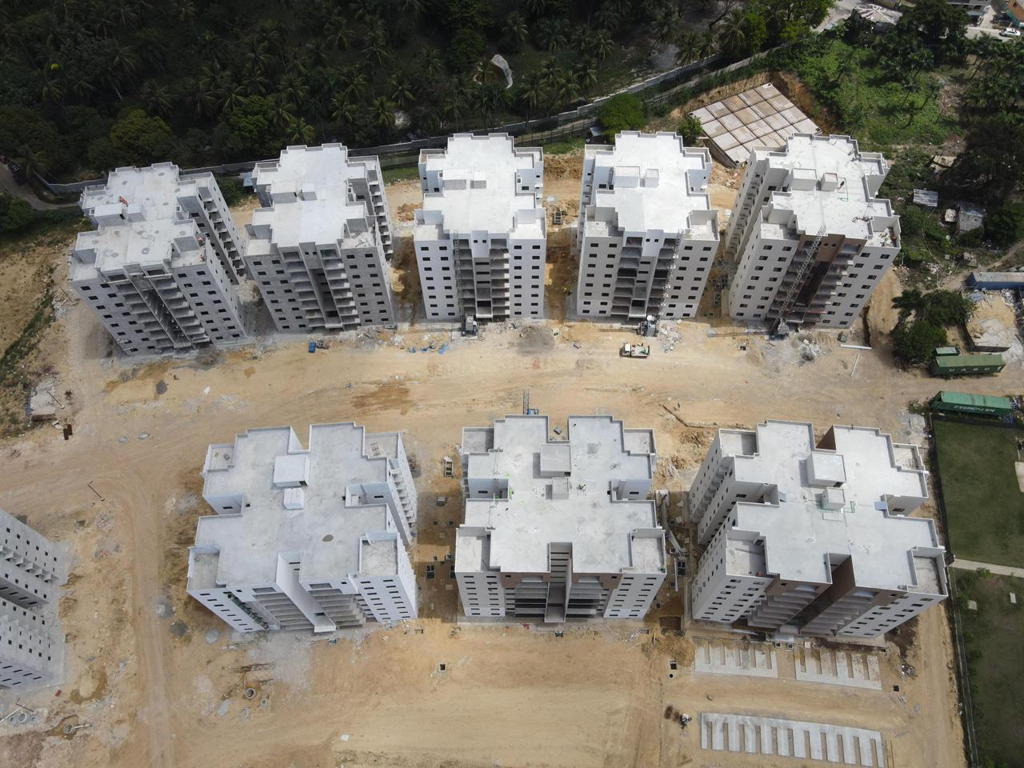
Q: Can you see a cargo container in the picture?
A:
Yes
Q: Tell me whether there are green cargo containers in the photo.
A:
Yes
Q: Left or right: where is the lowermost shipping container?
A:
right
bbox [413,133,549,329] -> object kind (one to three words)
building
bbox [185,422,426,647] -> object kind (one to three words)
building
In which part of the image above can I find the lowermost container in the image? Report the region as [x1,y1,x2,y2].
[935,390,1011,416]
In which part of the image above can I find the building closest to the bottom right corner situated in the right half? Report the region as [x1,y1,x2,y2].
[684,421,951,654]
